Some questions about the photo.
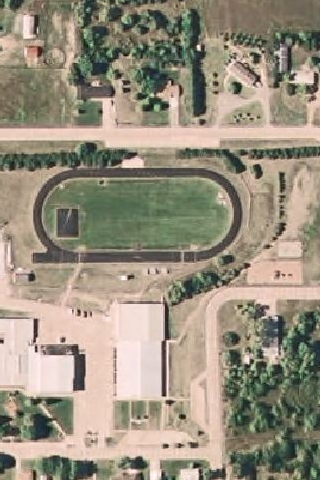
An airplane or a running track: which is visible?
running track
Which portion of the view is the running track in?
center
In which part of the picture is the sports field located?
center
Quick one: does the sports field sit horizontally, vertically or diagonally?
horizontally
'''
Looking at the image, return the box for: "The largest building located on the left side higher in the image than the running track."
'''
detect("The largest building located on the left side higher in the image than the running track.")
[78,84,114,98]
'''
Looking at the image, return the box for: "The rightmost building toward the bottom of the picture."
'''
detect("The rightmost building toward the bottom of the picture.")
[264,316,279,356]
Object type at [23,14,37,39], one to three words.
barn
